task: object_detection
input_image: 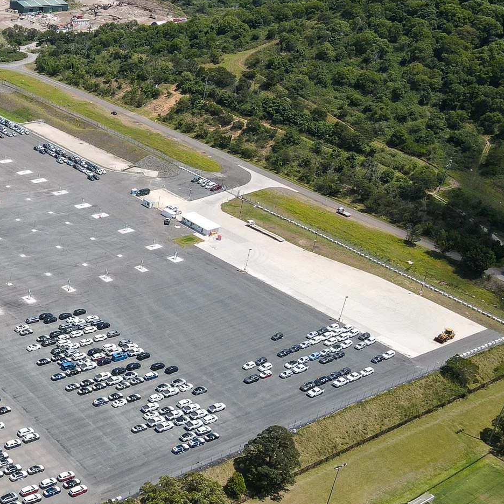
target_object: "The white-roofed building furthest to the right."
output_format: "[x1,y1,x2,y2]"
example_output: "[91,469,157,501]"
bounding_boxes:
[181,212,225,237]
